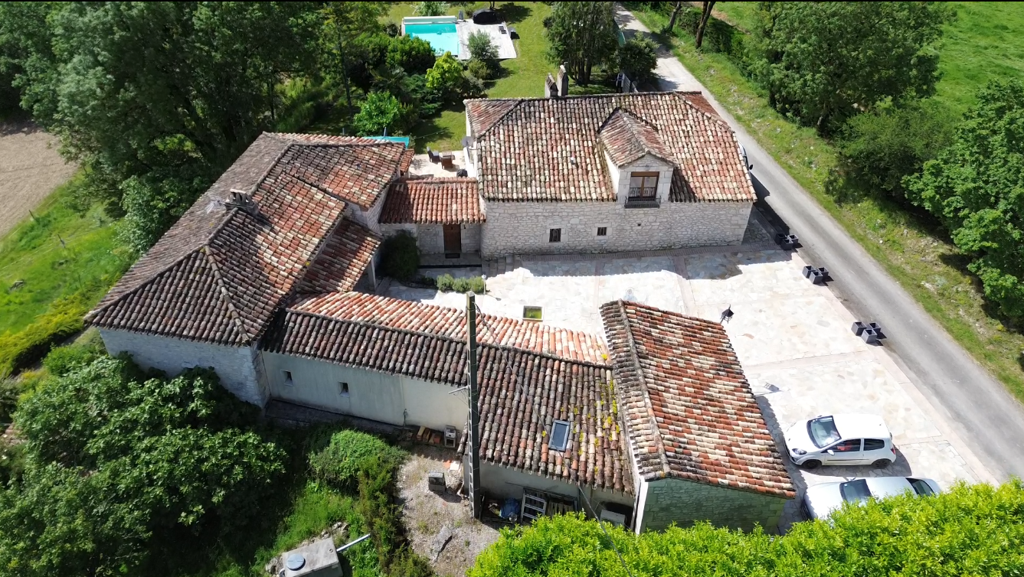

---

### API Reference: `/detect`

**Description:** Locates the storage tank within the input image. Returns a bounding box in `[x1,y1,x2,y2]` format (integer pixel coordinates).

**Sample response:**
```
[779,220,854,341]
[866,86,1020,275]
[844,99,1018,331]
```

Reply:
[282,536,345,577]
